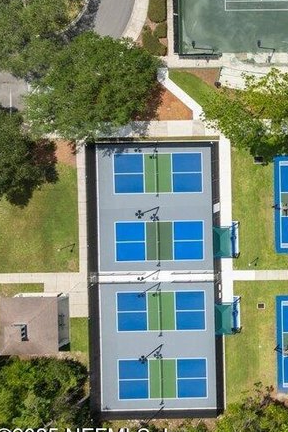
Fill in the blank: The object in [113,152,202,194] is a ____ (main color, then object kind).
blue sports court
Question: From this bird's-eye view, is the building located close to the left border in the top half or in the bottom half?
bottom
